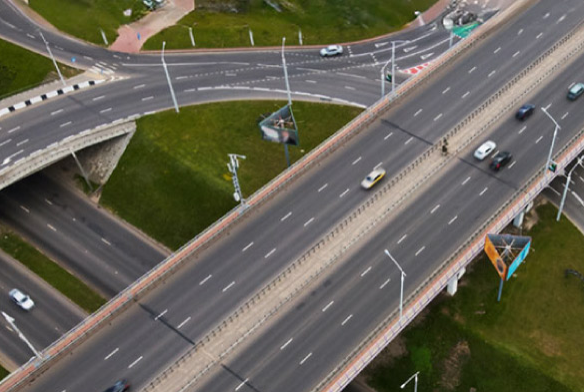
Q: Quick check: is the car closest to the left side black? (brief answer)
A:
No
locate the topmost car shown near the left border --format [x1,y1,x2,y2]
[5,287,34,311]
